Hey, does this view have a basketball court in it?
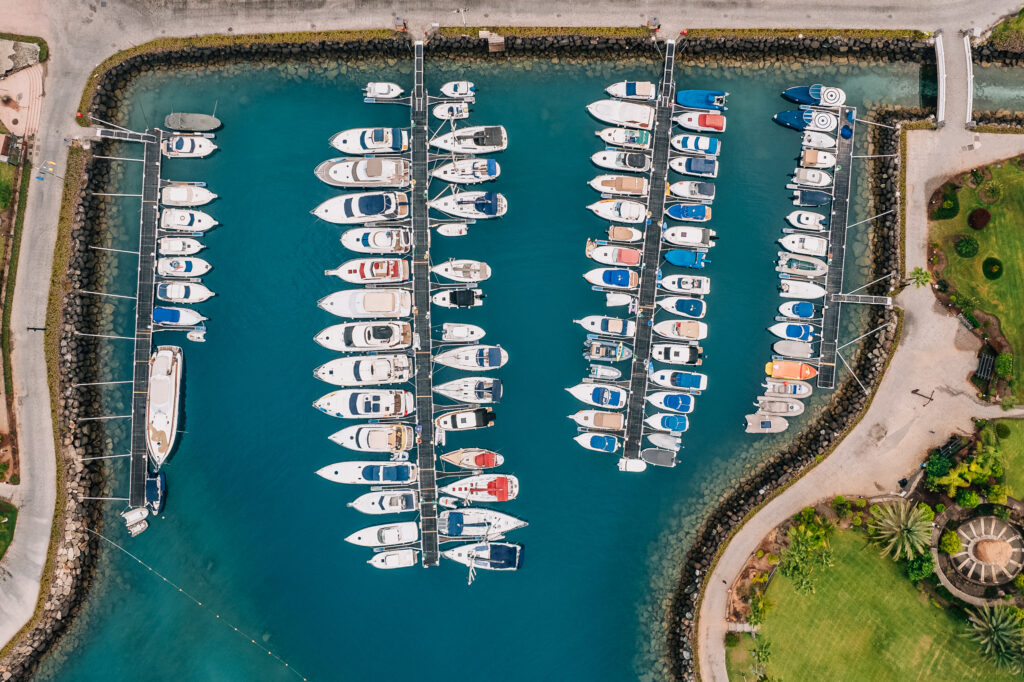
No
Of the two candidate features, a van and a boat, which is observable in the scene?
boat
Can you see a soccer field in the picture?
No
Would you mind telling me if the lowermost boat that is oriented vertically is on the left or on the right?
left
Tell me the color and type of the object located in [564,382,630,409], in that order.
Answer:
white boat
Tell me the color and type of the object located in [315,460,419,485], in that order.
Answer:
white boat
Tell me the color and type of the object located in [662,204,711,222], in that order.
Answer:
blue boat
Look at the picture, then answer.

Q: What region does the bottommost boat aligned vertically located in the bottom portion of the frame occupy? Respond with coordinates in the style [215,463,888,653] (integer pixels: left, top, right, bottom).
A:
[144,471,165,516]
